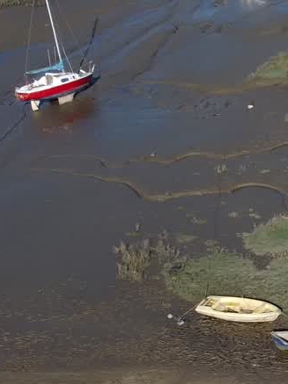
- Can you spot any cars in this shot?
No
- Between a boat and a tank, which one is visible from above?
boat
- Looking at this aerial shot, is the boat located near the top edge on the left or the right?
left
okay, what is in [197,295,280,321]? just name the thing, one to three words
boat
